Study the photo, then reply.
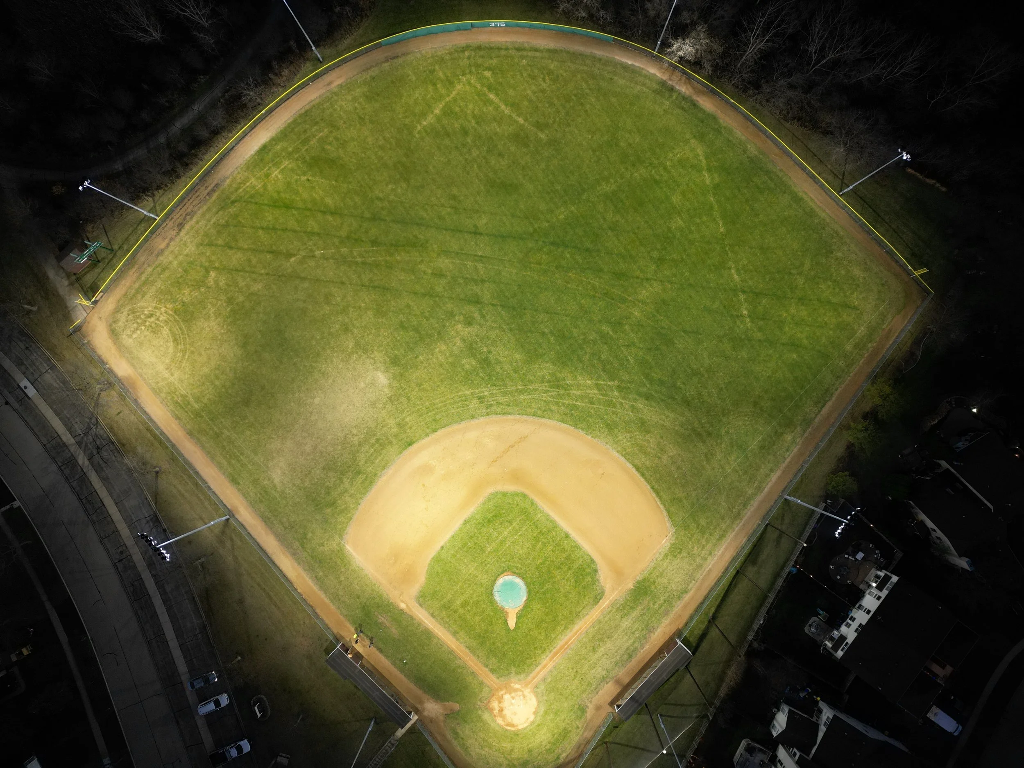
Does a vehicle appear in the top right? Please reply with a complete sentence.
No, in the top right there is no vehicle.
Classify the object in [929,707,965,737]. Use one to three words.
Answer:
van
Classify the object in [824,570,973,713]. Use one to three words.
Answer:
house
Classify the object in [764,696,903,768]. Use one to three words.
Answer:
house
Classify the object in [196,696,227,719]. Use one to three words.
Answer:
car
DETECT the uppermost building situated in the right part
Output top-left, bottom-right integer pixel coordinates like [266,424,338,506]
[924,410,1024,507]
